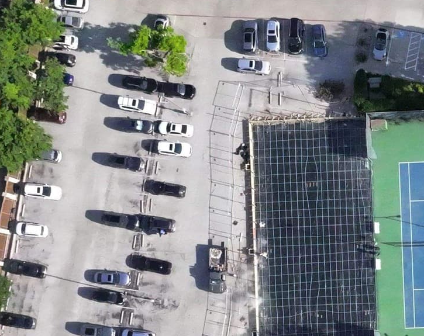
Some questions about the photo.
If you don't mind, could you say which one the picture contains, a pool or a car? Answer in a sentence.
I can see a car in this picture.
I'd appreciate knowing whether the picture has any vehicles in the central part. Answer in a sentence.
Yes, in the central part there is a vehicle.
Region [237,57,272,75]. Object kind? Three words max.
car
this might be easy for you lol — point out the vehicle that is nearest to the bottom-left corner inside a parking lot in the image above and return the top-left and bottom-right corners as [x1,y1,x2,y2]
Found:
[0,311,37,329]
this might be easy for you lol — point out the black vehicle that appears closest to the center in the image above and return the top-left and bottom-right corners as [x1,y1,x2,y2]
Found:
[149,179,186,199]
